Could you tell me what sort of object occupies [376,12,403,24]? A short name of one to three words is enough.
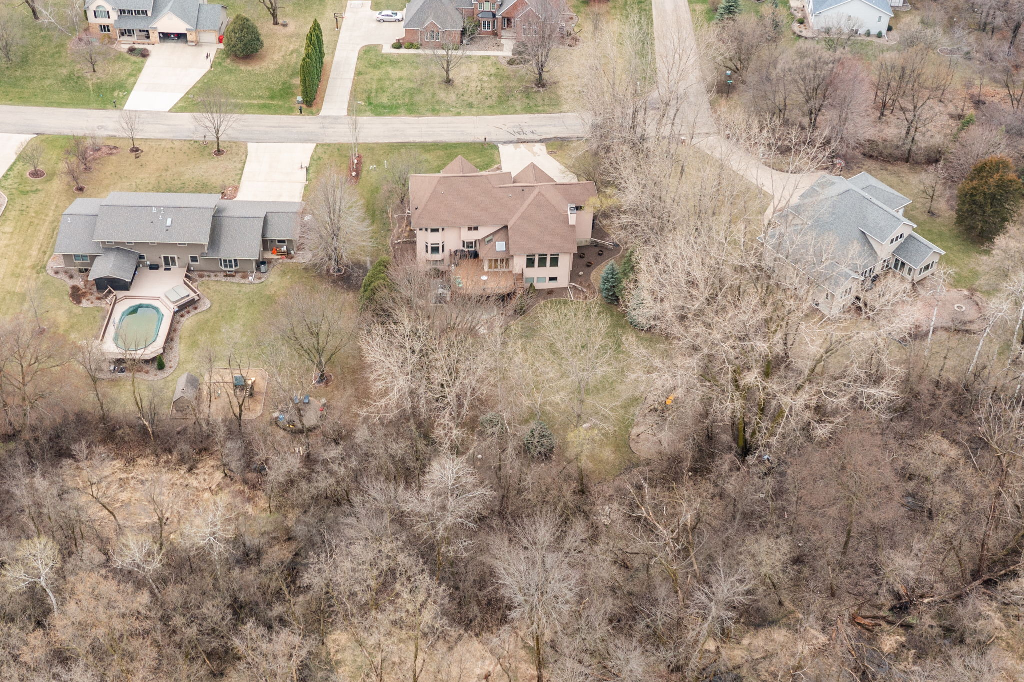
vehicle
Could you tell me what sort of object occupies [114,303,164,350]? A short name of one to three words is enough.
swimming pool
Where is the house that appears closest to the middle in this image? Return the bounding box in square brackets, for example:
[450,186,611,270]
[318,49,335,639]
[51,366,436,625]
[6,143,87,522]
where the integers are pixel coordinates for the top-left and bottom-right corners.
[408,154,619,299]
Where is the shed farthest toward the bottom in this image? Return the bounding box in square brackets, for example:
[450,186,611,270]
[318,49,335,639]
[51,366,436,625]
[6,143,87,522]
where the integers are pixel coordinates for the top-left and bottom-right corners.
[166,375,199,418]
